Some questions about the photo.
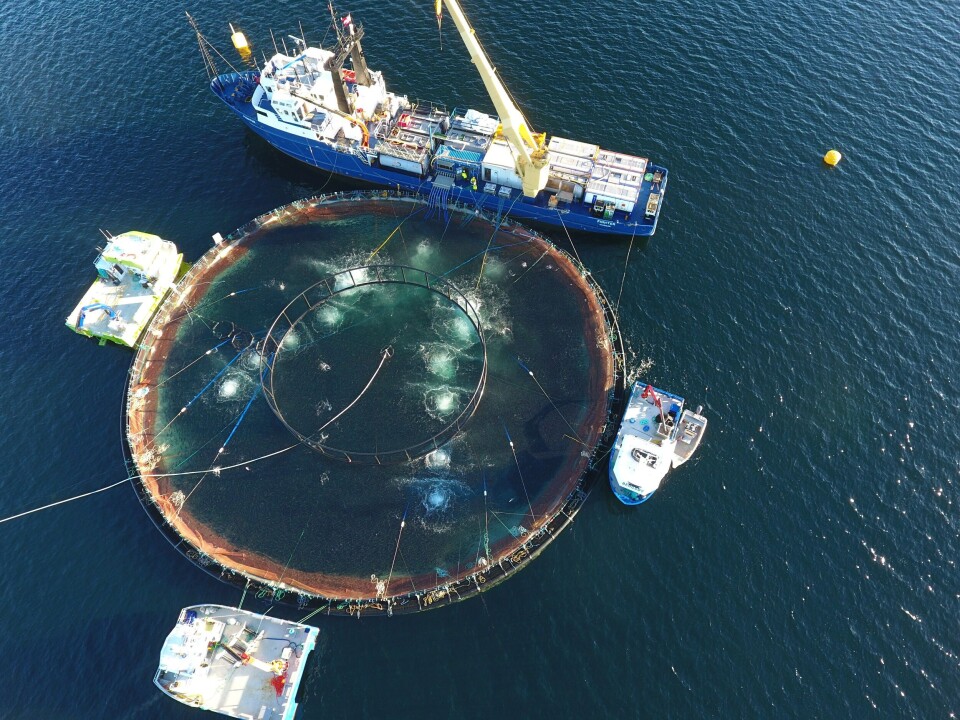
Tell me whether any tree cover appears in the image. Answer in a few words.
No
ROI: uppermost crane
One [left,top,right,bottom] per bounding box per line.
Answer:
[435,0,558,196]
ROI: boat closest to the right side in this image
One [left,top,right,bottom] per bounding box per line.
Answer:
[673,406,708,471]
